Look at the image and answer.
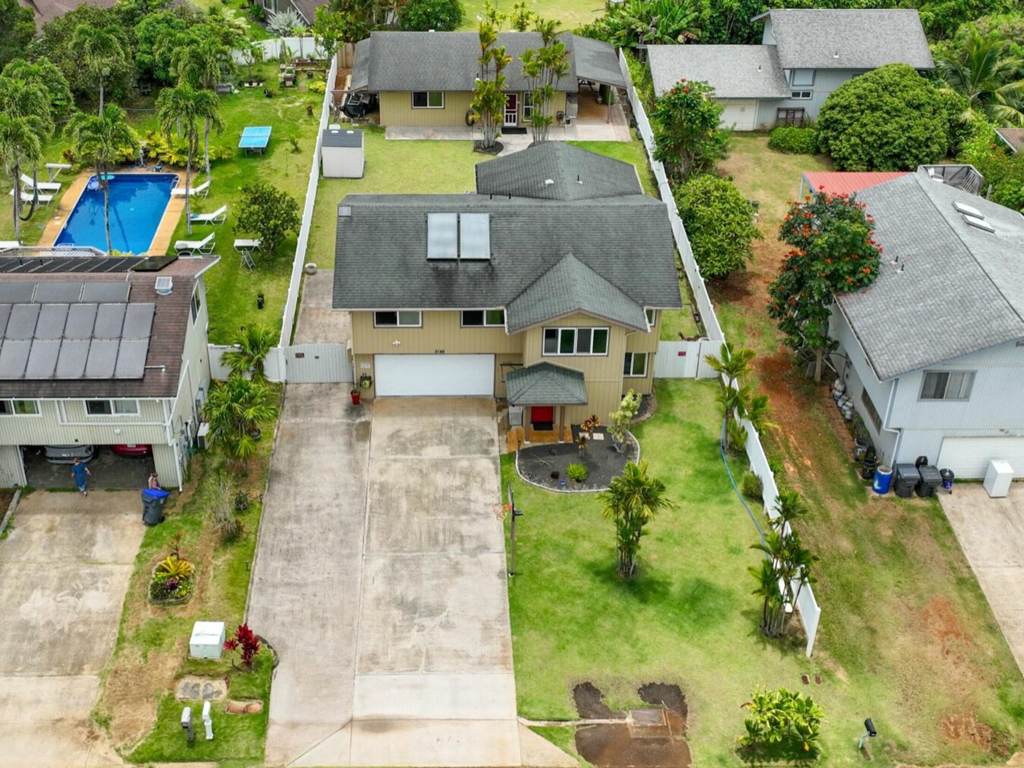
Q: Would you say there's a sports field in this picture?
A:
No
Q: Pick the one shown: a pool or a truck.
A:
pool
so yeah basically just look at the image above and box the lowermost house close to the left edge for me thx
[0,255,222,490]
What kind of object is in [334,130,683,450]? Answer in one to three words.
house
